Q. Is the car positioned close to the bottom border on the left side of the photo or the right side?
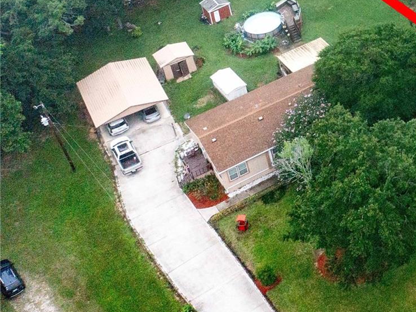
left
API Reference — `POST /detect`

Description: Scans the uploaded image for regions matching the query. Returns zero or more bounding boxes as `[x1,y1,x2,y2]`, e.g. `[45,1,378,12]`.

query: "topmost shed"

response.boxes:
[198,0,234,27]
